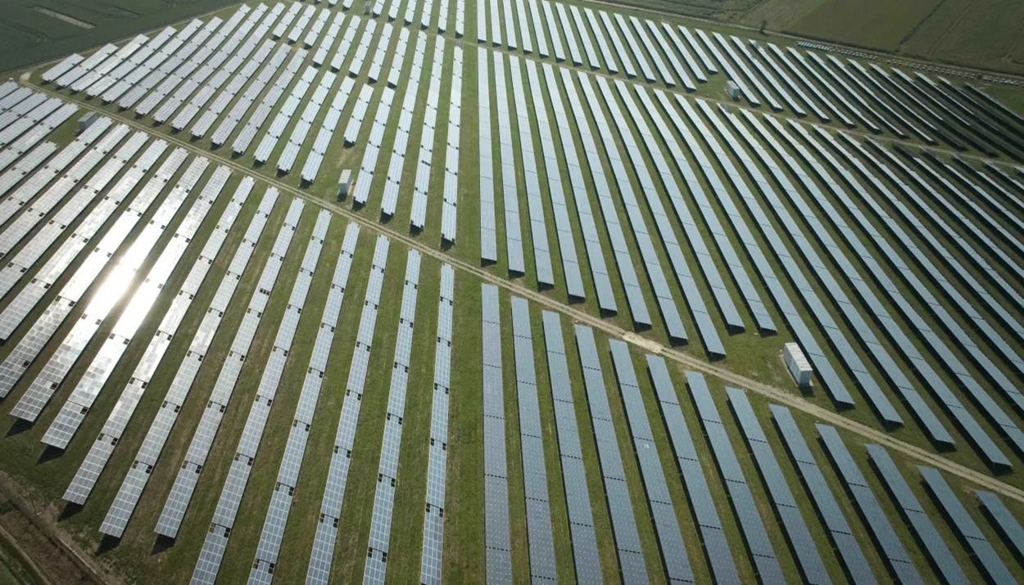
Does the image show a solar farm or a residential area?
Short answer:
solar farm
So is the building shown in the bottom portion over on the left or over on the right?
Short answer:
right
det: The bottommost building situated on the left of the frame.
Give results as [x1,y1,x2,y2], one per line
[338,169,356,193]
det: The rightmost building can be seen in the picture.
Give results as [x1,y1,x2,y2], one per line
[777,342,814,383]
